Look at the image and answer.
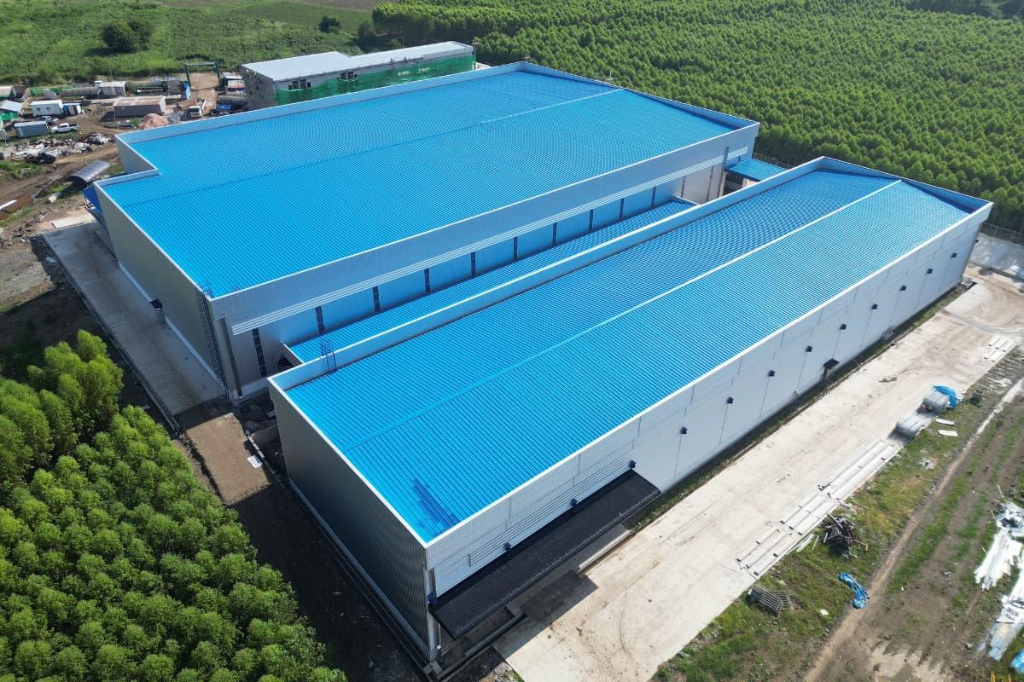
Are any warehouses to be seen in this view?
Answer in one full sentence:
Yes, the picture does show a warehouse.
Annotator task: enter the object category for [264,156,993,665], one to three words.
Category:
warehouse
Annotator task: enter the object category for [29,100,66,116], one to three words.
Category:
building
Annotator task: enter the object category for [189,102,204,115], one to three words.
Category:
vehicle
